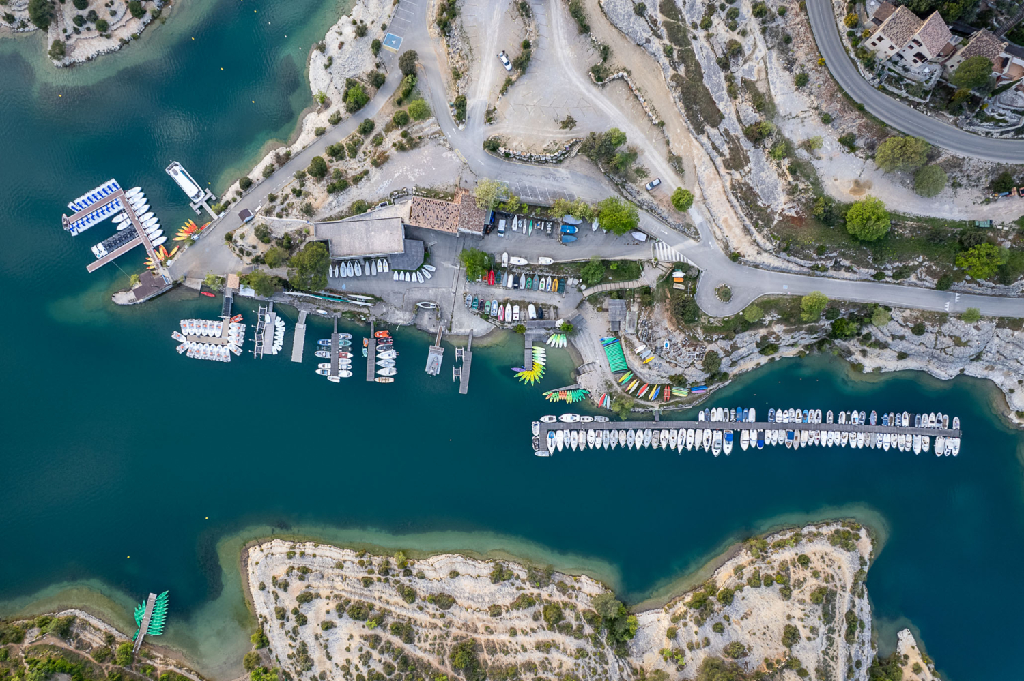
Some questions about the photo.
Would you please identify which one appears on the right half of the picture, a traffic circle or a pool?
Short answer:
traffic circle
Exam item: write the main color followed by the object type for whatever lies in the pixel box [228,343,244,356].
white boat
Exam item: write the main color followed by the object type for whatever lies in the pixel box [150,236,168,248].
white boat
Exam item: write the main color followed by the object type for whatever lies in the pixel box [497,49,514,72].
white car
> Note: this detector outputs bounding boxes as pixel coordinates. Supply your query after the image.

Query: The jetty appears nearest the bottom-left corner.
[132,593,157,655]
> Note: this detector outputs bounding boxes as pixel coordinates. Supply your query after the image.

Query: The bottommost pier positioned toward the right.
[539,409,961,451]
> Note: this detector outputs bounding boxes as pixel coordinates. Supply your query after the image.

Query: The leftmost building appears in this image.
[133,270,178,301]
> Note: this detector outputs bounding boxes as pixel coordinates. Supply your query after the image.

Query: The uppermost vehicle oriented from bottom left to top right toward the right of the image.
[644,176,662,192]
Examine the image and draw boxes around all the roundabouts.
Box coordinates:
[696,266,751,316]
